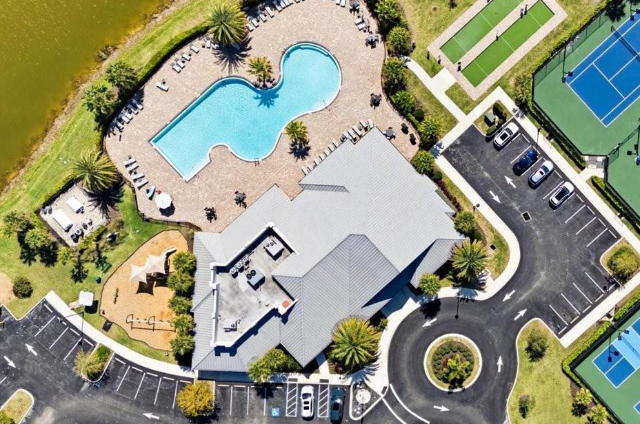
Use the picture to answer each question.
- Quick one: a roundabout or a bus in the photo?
roundabout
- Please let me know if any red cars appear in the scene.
No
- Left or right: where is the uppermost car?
right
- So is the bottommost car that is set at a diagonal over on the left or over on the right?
right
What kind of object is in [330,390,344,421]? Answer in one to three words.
car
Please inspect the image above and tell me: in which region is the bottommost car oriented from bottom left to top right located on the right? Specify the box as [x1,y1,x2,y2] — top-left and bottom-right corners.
[548,182,575,207]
